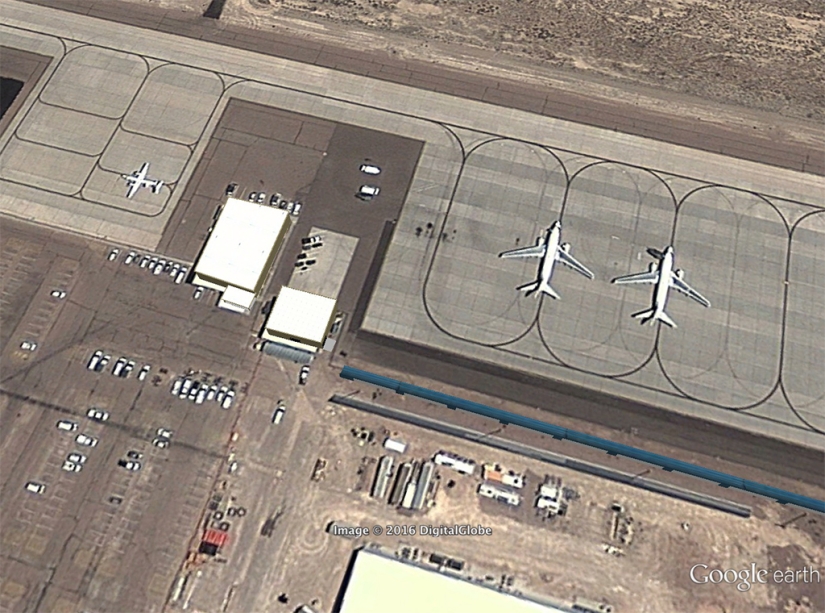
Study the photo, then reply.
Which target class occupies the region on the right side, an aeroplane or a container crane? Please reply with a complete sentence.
The feature located on the right side is an aeroplane.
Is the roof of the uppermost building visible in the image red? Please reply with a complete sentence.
No, the roof of the uppermost building is white.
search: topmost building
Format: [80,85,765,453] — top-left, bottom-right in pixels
[193,197,293,302]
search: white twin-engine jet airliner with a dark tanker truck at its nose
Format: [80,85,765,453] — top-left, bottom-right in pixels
[616,246,714,329]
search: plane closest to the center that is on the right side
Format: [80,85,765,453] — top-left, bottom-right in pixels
[500,219,595,300]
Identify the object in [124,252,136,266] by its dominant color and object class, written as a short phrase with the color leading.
white vehicle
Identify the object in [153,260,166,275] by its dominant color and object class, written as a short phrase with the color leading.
white vehicle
